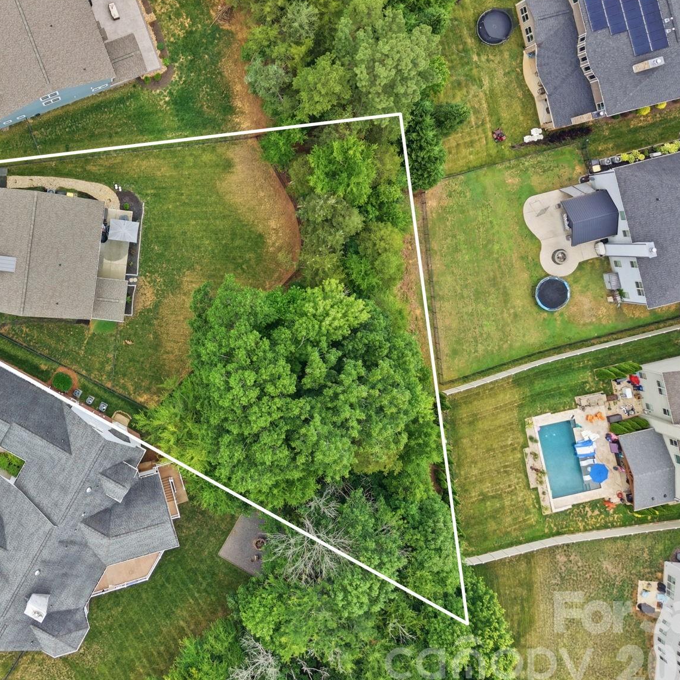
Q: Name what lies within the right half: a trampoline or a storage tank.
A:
trampoline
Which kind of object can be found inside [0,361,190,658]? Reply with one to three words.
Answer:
house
